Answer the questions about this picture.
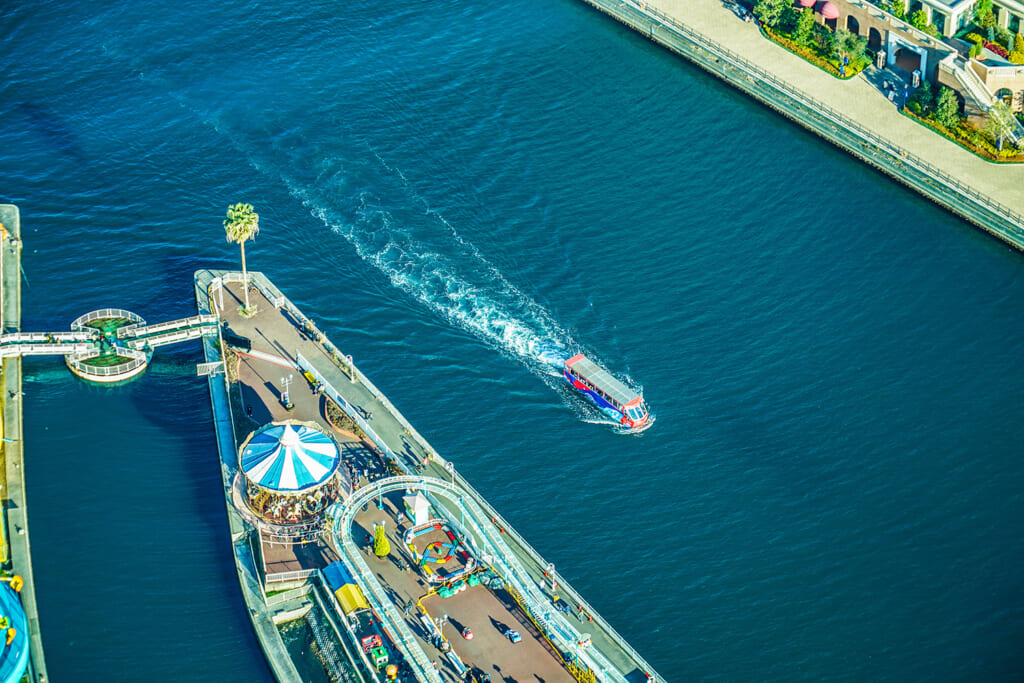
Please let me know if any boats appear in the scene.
Yes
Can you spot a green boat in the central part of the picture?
No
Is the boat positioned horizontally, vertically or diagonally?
diagonally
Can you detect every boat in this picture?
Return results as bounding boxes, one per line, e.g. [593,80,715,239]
[563,354,650,428]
